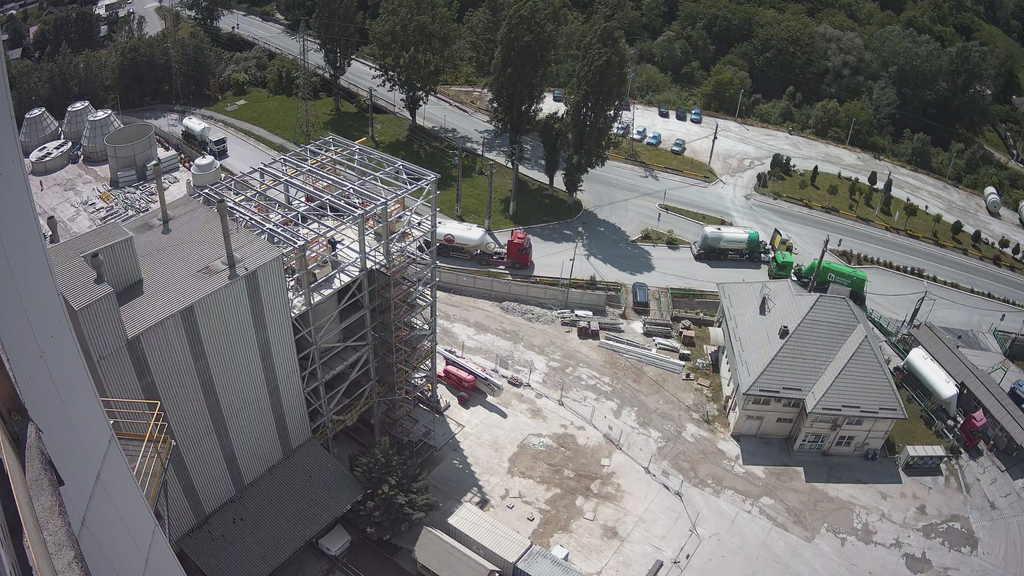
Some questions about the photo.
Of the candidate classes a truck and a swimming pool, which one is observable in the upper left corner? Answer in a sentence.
There is a truck in the upper left corner.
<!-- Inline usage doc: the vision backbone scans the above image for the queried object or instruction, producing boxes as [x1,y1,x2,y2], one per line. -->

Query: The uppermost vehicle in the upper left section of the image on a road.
[182,122,220,157]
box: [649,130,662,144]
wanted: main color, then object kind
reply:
blue vehicle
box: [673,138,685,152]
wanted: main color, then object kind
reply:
gray vehicle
